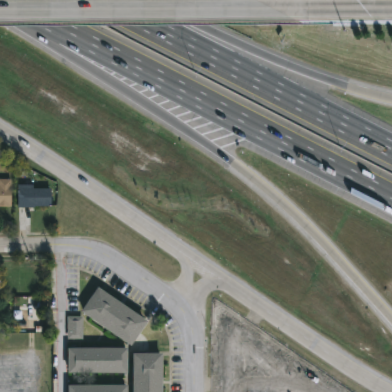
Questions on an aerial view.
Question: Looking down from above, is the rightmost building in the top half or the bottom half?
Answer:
bottom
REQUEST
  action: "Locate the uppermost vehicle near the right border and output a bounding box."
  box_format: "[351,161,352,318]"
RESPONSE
[360,138,387,154]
